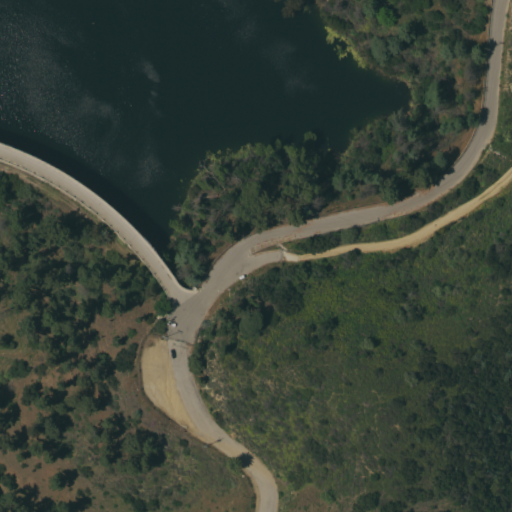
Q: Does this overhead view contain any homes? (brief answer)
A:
No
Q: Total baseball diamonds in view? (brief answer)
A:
0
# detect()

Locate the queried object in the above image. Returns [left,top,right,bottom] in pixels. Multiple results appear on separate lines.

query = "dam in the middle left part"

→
[0,144,199,312]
